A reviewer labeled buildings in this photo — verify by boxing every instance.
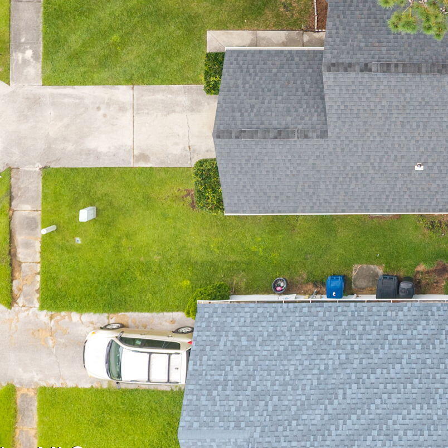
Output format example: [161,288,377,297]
[212,0,448,216]
[177,289,448,448]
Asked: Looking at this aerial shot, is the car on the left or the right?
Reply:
left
